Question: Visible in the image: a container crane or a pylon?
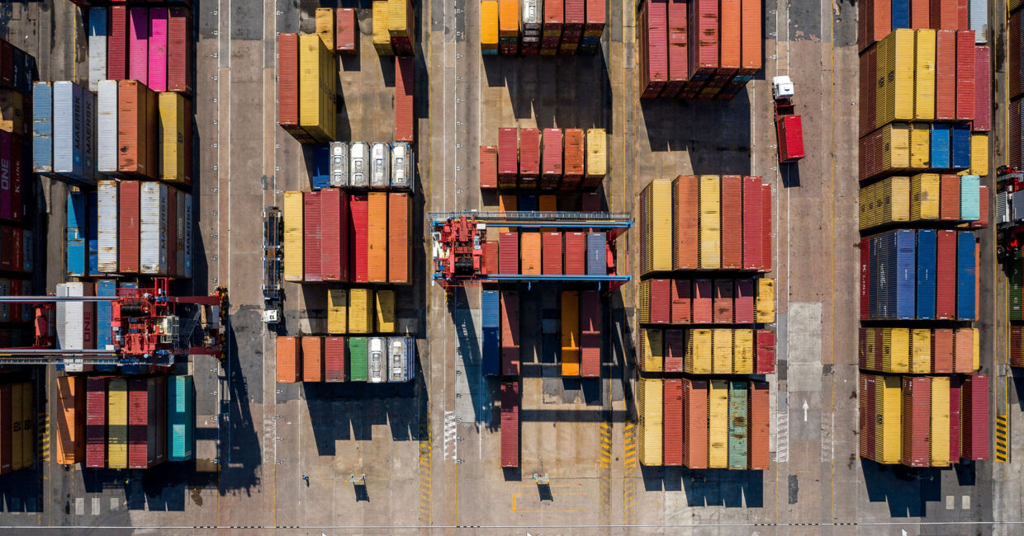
container crane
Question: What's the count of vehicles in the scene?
2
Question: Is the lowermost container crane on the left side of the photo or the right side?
left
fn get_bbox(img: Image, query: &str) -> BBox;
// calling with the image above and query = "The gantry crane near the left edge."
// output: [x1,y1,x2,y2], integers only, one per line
[0,278,227,371]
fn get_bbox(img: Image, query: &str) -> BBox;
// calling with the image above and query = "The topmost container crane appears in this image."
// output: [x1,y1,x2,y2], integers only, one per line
[995,167,1024,252]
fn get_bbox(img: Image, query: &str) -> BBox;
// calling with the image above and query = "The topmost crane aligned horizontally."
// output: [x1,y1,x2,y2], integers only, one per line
[424,210,636,301]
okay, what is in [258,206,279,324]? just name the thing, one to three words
truck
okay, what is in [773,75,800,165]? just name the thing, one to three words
truck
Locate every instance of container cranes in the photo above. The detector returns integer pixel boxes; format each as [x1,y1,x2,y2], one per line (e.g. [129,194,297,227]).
[424,210,636,301]
[0,278,227,371]
[995,167,1024,252]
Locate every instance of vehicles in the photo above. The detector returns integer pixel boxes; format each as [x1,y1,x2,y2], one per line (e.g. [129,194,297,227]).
[773,75,800,165]
[258,206,279,324]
